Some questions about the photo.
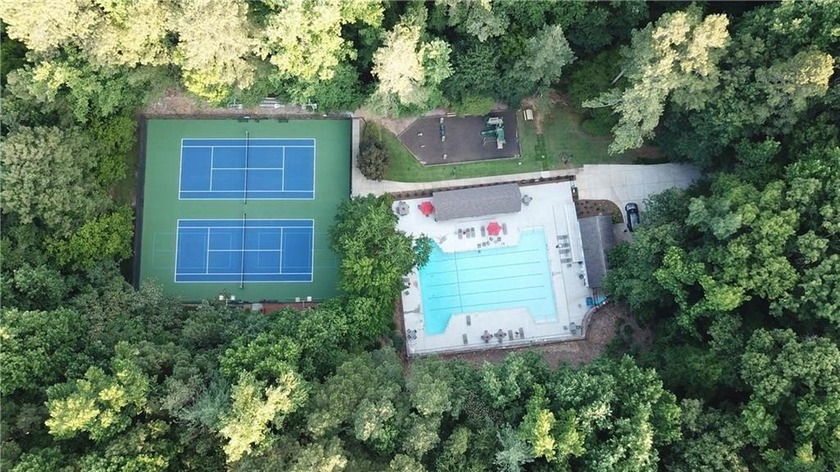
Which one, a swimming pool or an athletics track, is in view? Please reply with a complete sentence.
This aerial view contains a swimming pool.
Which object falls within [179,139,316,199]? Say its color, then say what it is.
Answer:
blue tennis court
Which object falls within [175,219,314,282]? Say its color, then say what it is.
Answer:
blue tennis court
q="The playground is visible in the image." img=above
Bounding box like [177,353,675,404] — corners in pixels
[395,108,522,166]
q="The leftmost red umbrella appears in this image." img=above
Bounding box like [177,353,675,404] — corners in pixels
[420,200,434,214]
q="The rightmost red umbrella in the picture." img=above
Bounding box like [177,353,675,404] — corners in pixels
[488,220,502,234]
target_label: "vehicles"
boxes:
[624,204,640,231]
